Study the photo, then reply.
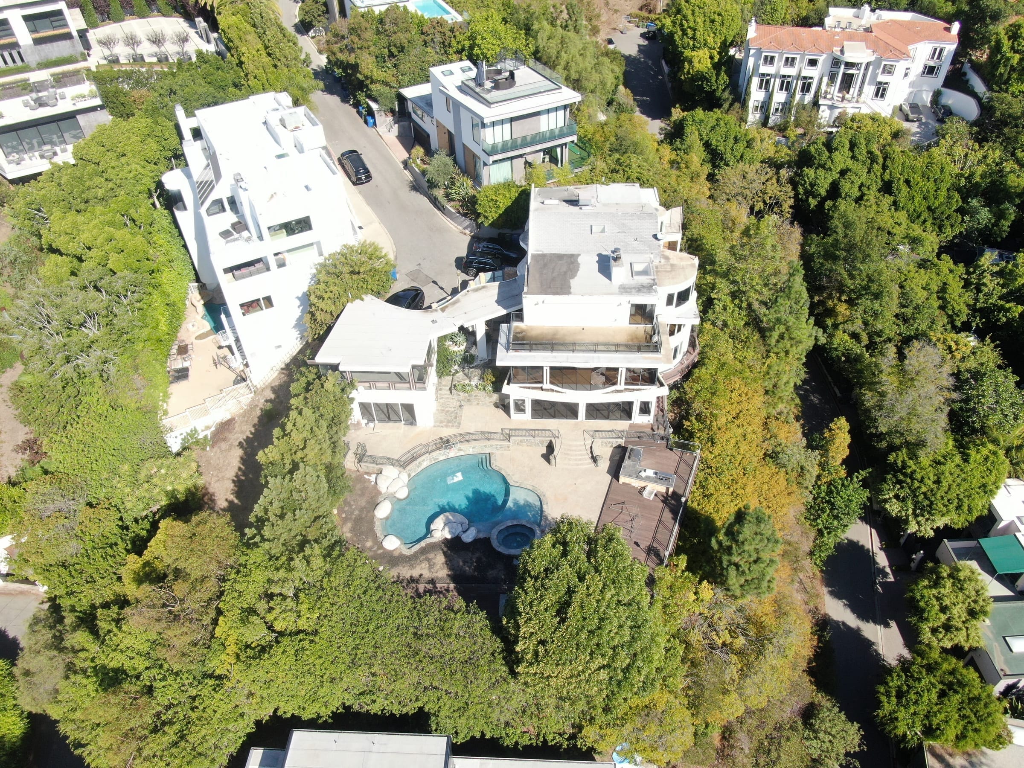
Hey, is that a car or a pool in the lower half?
pool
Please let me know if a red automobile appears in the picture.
No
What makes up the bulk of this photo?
trees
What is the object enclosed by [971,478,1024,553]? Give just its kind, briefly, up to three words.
house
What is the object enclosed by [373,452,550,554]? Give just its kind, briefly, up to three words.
swimming pool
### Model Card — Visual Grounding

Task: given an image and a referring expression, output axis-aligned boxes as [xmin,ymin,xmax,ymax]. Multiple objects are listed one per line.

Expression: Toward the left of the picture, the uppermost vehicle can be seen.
[339,153,374,192]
